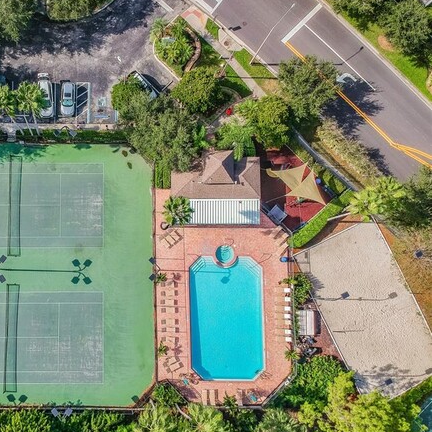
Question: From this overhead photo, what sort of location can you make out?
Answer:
sports ground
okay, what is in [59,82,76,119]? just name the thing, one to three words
car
